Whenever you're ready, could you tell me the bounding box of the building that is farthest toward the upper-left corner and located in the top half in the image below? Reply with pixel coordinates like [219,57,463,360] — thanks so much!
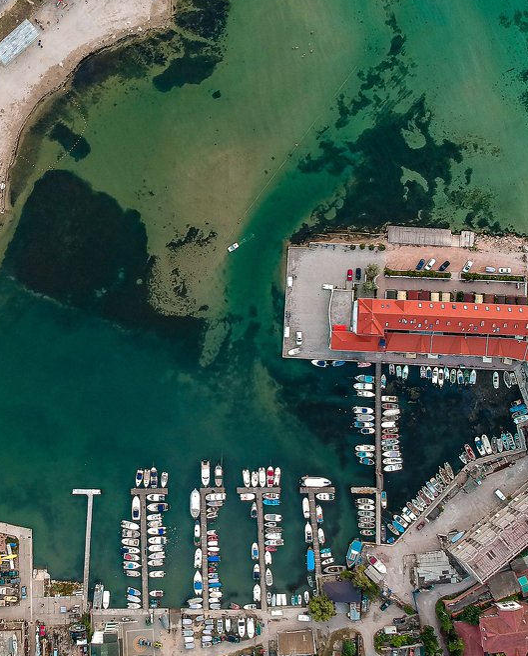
[0,20,39,68]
